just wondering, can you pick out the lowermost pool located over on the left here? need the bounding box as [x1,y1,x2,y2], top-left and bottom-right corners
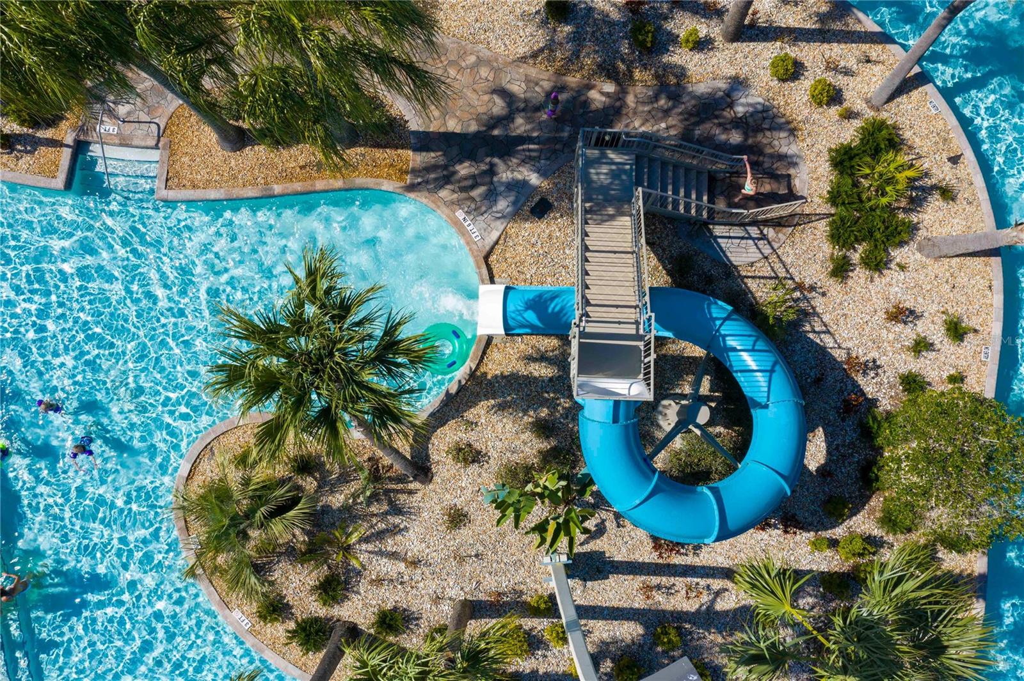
[0,144,480,681]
